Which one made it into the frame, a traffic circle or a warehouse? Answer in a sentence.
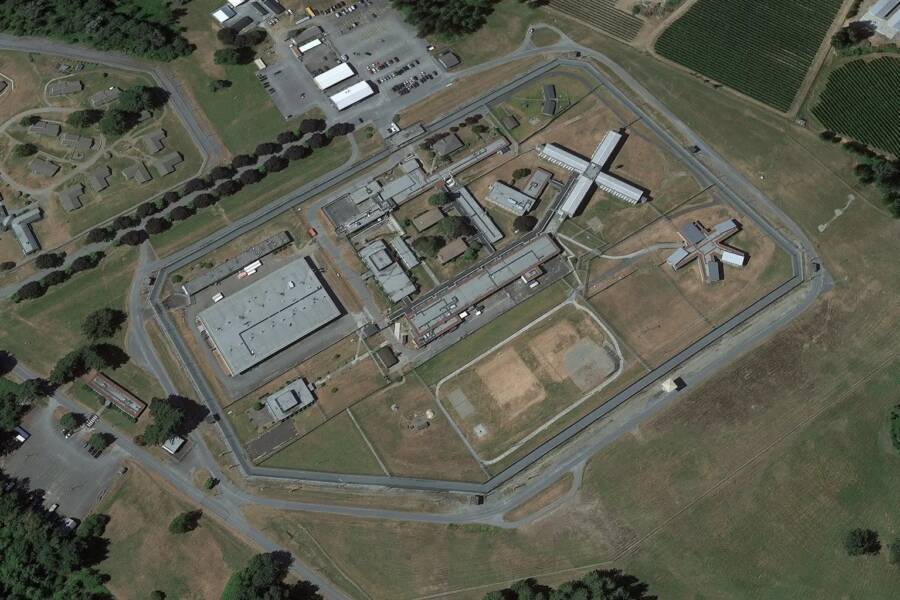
Looking from above, you can make out a warehouse.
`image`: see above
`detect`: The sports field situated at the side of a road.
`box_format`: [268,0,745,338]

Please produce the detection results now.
[435,300,623,463]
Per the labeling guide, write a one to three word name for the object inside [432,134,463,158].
house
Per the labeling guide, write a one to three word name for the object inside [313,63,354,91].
shed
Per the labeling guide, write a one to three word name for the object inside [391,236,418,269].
building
